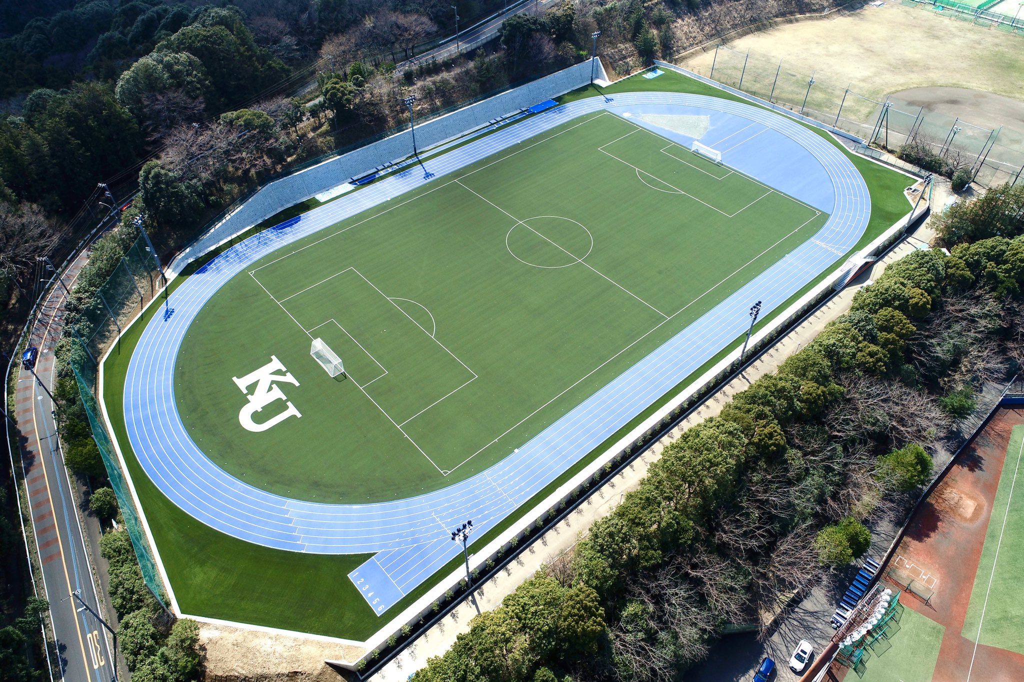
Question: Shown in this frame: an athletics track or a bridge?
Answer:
athletics track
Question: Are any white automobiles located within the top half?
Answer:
No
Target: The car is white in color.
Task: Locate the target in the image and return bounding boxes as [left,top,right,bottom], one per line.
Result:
[789,638,813,673]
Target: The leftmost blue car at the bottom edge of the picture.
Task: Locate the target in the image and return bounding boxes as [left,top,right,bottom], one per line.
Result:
[753,655,775,682]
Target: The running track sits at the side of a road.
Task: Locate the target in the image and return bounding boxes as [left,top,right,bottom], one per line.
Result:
[125,92,870,616]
